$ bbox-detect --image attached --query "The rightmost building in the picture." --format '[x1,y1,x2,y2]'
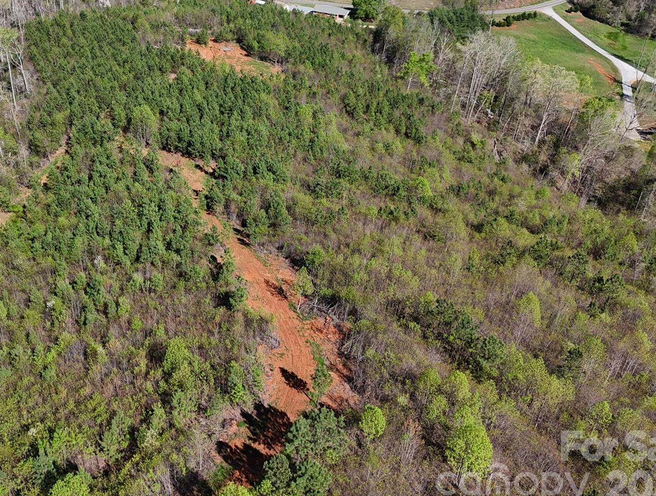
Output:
[312,2,354,20]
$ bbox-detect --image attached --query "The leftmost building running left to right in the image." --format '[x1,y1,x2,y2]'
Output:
[286,0,314,16]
